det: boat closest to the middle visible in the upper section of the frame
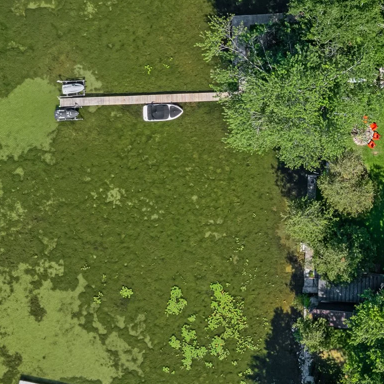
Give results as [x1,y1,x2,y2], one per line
[142,103,184,121]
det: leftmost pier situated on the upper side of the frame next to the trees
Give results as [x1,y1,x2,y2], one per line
[58,89,234,107]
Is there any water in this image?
Yes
